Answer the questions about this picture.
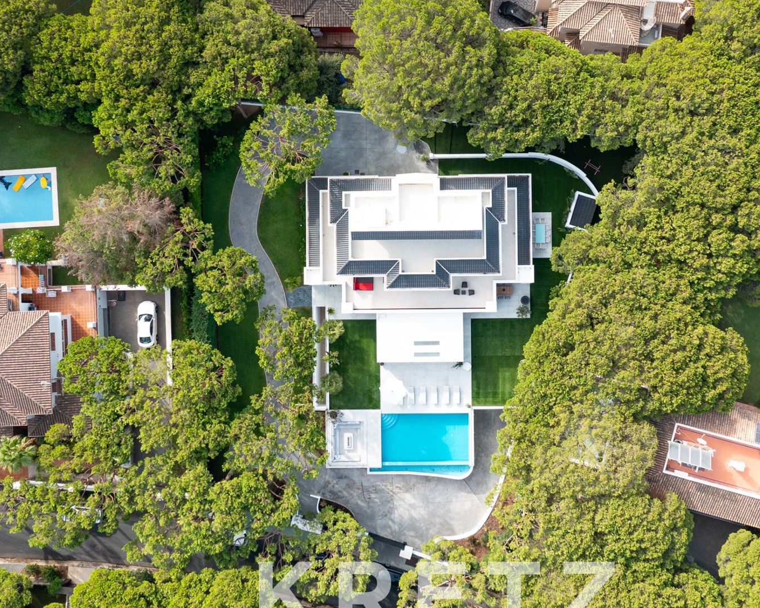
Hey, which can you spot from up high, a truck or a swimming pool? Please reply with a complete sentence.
Visible in the photo is a swimming pool.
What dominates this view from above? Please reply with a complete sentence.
What you mostly see from above here is trees.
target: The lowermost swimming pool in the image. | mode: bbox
[367,466,474,480]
